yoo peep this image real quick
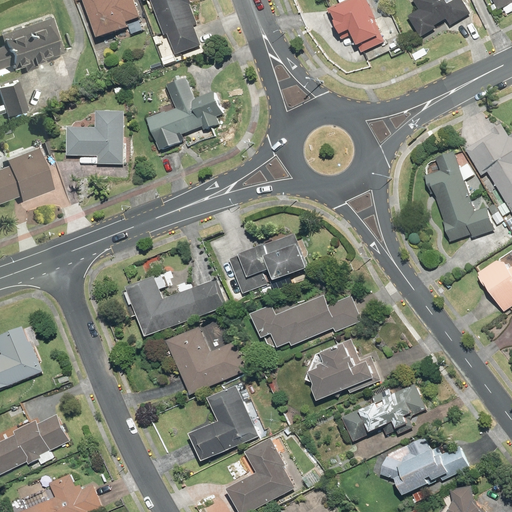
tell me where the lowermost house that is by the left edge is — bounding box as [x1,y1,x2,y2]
[25,475,104,512]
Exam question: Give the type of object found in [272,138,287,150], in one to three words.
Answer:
vehicle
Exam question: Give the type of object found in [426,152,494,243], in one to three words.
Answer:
house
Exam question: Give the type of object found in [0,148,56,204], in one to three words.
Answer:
house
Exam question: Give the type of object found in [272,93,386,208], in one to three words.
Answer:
roundabout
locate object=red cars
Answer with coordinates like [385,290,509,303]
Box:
[164,158,172,172]
[255,0,264,12]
